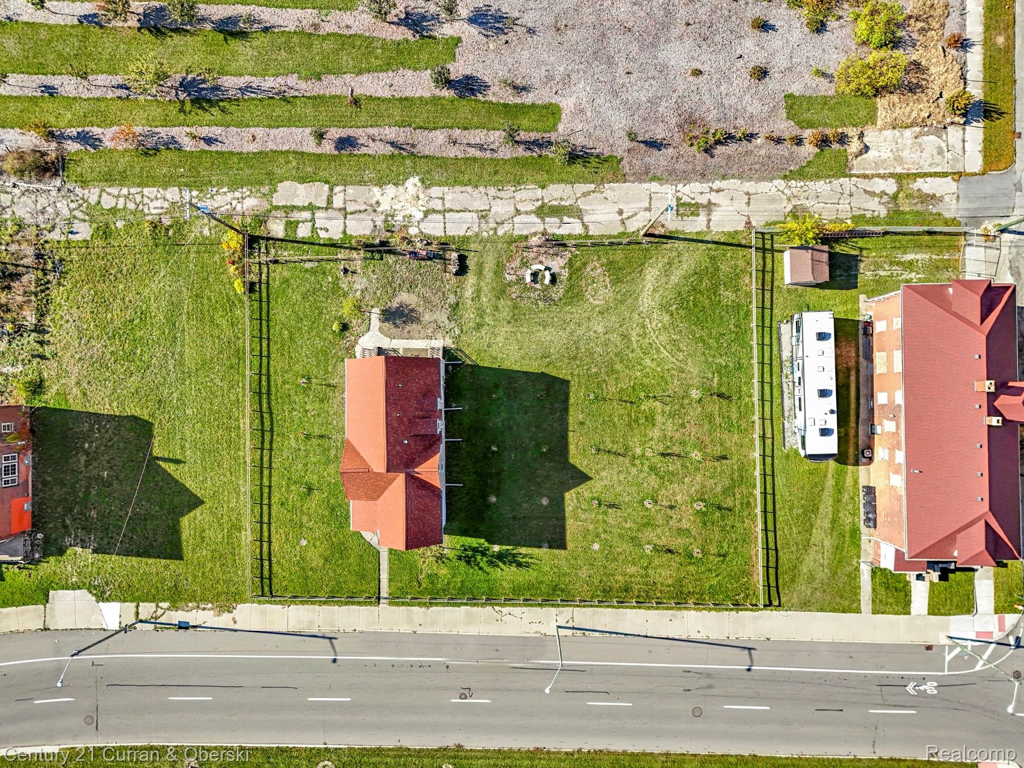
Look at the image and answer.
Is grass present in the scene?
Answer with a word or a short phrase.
Yes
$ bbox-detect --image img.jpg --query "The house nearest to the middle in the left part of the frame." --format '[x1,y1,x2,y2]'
[339,356,465,551]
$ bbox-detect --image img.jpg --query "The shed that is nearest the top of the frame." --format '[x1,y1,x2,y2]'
[784,245,829,285]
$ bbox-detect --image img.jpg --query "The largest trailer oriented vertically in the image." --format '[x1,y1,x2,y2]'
[787,306,837,468]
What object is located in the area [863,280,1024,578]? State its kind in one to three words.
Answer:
house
